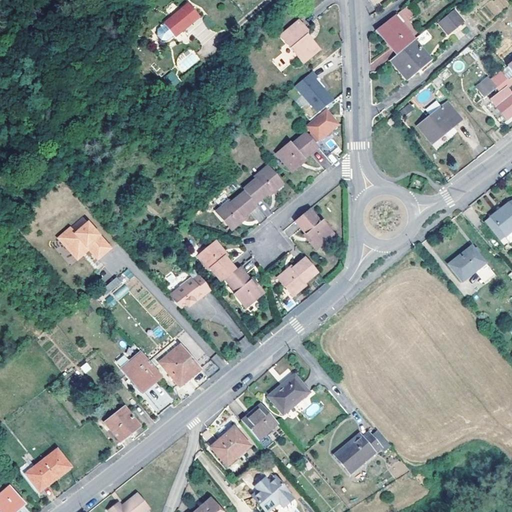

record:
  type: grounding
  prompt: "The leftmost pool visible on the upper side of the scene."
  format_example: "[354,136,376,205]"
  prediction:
[178,54,199,72]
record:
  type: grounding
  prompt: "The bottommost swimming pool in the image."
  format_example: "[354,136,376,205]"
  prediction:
[304,402,322,417]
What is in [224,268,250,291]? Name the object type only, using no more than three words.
building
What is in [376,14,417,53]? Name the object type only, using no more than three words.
house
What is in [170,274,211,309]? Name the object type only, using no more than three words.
house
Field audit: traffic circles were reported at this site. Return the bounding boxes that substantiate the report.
[352,175,438,260]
